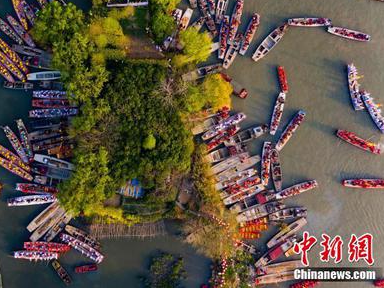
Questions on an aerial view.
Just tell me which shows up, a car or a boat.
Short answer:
boat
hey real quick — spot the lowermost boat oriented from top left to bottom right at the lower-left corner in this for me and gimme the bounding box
[51,260,72,286]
